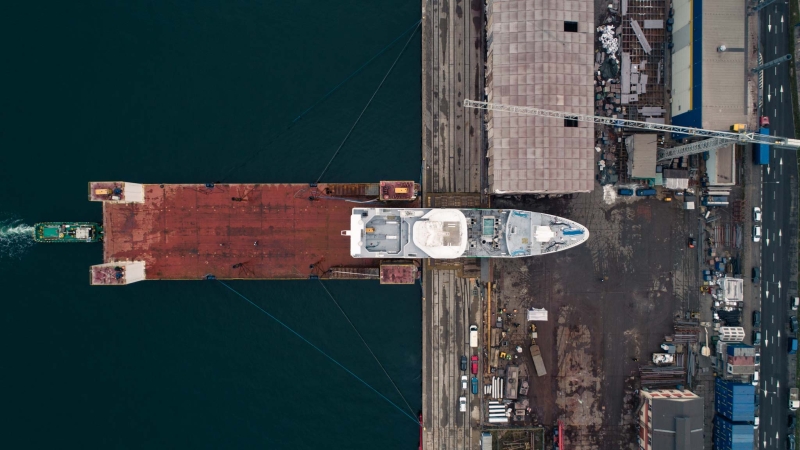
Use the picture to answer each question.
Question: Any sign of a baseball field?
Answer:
No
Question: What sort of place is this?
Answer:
port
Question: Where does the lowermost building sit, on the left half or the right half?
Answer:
right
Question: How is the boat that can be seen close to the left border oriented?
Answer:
horizontally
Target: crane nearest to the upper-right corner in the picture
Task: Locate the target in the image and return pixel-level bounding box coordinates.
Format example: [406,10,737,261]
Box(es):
[462,97,800,166]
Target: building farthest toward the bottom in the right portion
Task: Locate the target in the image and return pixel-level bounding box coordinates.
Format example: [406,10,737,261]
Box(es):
[640,391,702,450]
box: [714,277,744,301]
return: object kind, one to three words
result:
building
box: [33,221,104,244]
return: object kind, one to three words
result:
boat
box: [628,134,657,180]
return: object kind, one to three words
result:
shed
